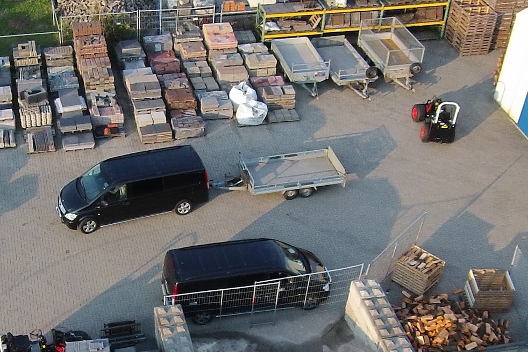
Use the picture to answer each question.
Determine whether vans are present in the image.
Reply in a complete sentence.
Yes, looking at the shot, I can spot a van.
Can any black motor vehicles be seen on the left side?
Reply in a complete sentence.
Yes, a black motor vehicle can be seen on the left side.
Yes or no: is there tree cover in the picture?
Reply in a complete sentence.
No, there's no tree cover in this view.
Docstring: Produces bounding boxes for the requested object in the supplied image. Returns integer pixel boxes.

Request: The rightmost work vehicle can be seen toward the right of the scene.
[409,82,468,142]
